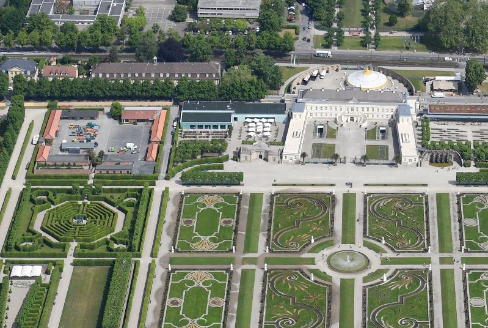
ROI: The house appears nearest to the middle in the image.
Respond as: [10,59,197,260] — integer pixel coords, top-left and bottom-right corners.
[239,135,282,163]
